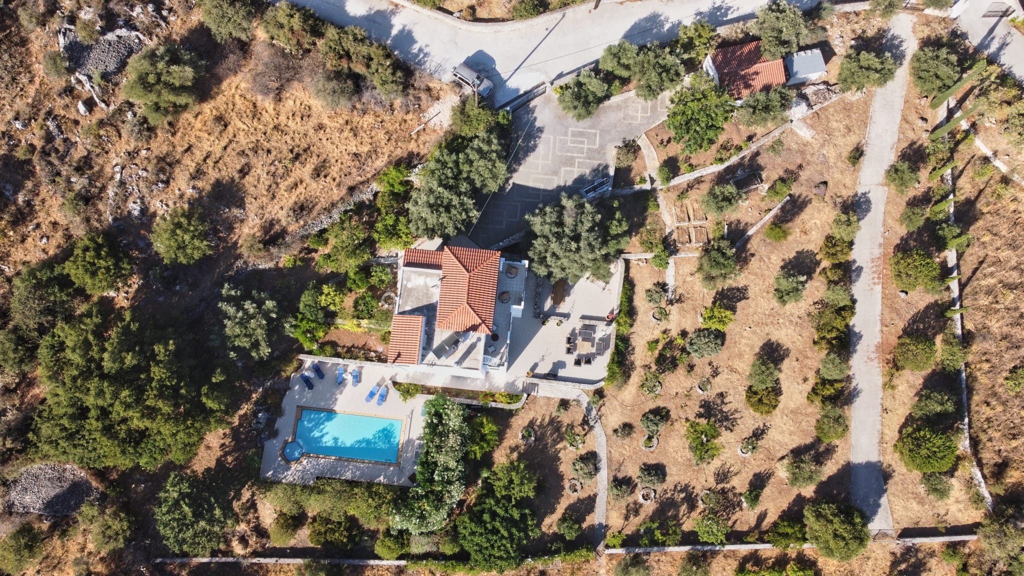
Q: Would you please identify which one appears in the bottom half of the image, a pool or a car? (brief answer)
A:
pool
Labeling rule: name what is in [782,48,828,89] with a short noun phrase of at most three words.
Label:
shed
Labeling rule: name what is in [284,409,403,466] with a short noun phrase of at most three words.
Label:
swimming pool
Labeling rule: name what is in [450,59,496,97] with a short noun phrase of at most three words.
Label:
car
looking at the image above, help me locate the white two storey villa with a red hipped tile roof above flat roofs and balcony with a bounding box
[388,244,528,377]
